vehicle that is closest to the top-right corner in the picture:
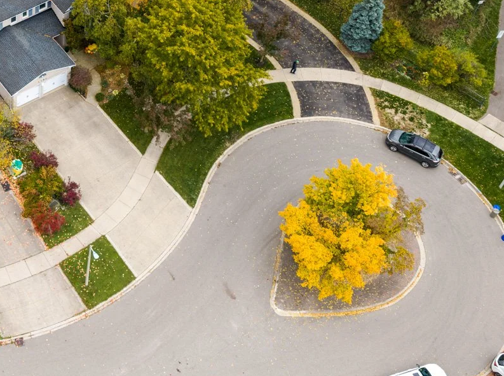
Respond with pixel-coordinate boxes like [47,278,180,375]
[382,122,447,171]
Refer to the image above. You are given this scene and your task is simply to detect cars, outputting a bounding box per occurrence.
[484,342,504,376]
[382,122,447,171]
[381,360,447,376]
